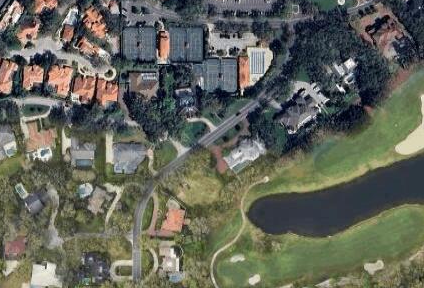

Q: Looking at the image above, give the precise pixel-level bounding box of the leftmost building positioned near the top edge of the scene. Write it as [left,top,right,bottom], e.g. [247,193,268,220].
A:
[0,5,22,32]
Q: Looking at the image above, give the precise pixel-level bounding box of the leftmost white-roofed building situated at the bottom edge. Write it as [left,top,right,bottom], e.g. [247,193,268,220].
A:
[32,263,61,288]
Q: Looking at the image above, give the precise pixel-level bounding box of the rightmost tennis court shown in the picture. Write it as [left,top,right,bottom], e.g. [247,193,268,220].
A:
[221,58,237,93]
